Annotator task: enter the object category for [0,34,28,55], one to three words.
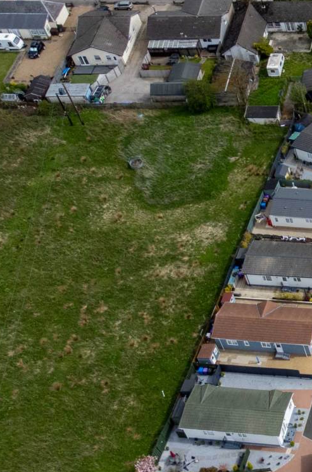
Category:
camper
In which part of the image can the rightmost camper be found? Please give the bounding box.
[267,55,287,78]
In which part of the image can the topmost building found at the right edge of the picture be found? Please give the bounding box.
[222,0,312,65]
